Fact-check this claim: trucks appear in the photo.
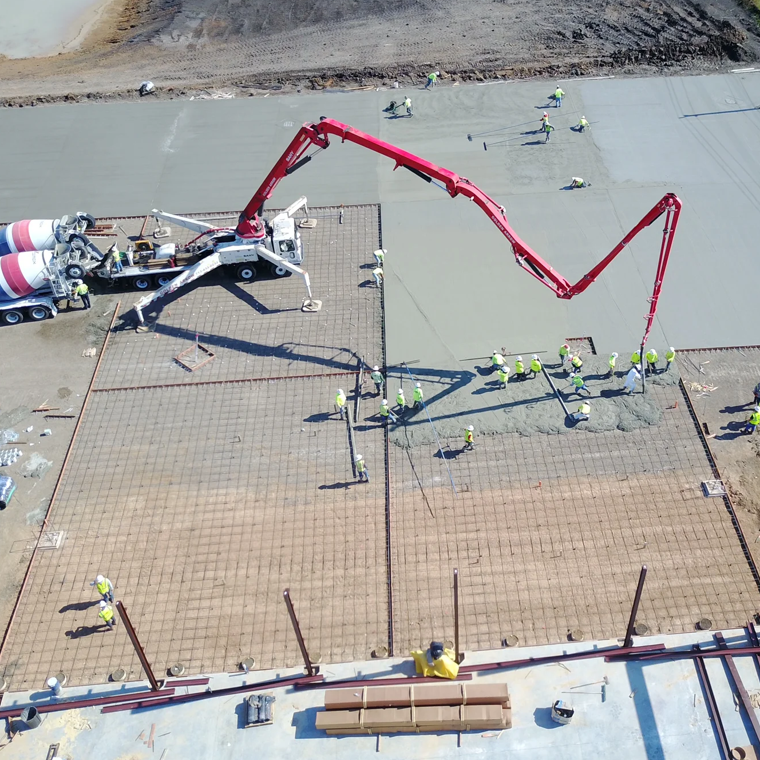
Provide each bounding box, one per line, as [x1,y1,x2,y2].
[93,113,684,391]
[0,236,113,324]
[0,208,118,276]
